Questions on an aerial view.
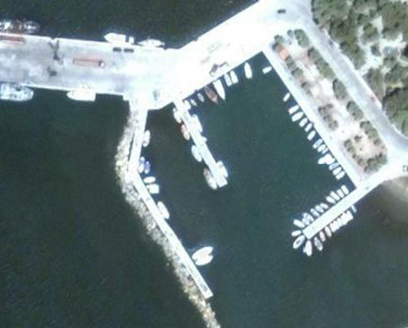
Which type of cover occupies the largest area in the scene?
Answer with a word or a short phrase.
water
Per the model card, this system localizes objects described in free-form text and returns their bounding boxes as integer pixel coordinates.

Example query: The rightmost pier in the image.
[303,183,389,240]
